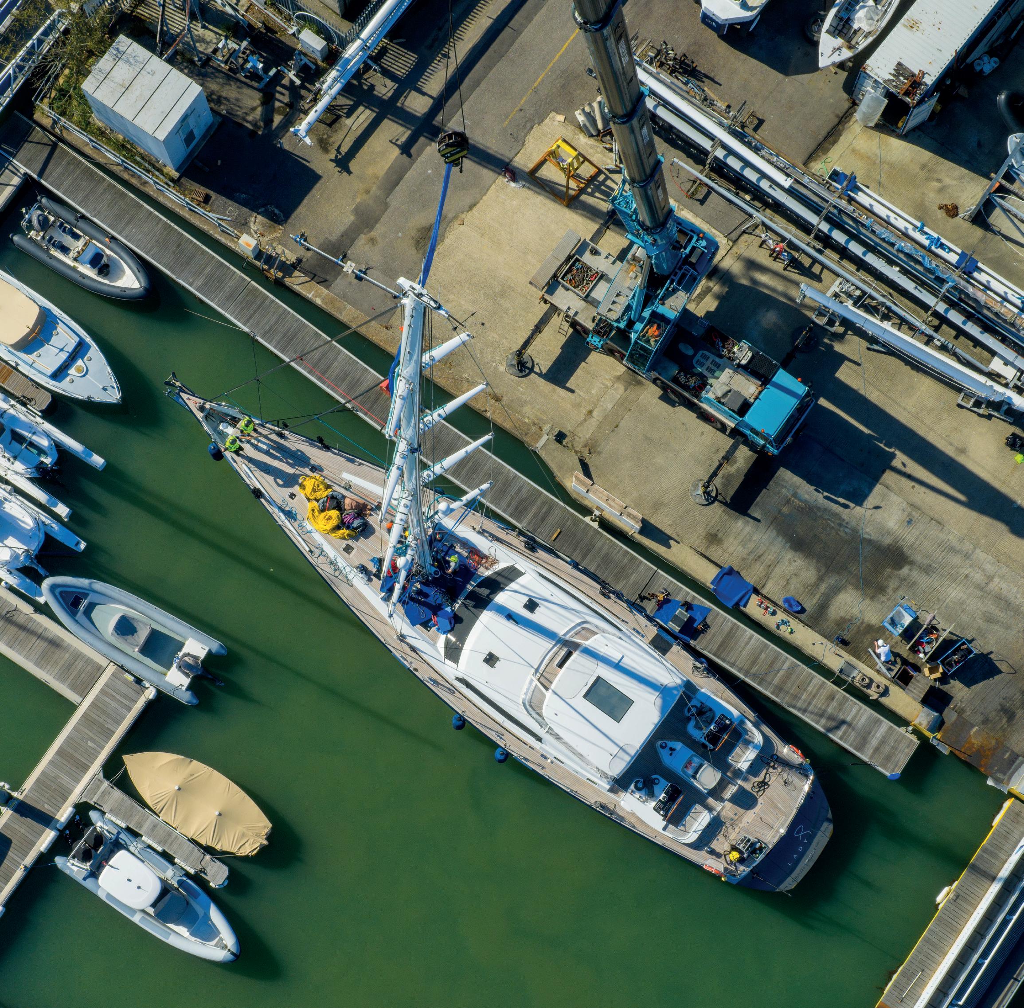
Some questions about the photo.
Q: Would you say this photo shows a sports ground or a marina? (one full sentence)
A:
What you see here is a marina.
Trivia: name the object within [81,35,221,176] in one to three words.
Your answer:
shed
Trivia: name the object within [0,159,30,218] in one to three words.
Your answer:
pier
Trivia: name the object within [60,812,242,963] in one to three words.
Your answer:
boat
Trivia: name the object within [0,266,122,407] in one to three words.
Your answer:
boat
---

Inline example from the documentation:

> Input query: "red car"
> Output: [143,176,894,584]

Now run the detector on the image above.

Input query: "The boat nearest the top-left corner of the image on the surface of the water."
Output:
[15,198,153,301]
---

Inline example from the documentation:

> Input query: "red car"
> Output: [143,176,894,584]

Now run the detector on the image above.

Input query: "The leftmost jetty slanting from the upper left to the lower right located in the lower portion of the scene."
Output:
[0,579,110,707]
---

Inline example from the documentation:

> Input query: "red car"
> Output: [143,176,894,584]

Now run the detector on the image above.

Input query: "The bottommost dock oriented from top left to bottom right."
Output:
[77,768,230,890]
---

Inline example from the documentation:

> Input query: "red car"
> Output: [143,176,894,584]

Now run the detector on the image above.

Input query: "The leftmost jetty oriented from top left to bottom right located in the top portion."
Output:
[0,361,54,412]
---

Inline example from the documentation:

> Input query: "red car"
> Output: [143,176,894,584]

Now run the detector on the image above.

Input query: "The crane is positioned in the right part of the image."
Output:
[506,0,825,502]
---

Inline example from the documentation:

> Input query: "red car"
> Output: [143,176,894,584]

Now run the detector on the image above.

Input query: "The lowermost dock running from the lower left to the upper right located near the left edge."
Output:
[0,661,151,918]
